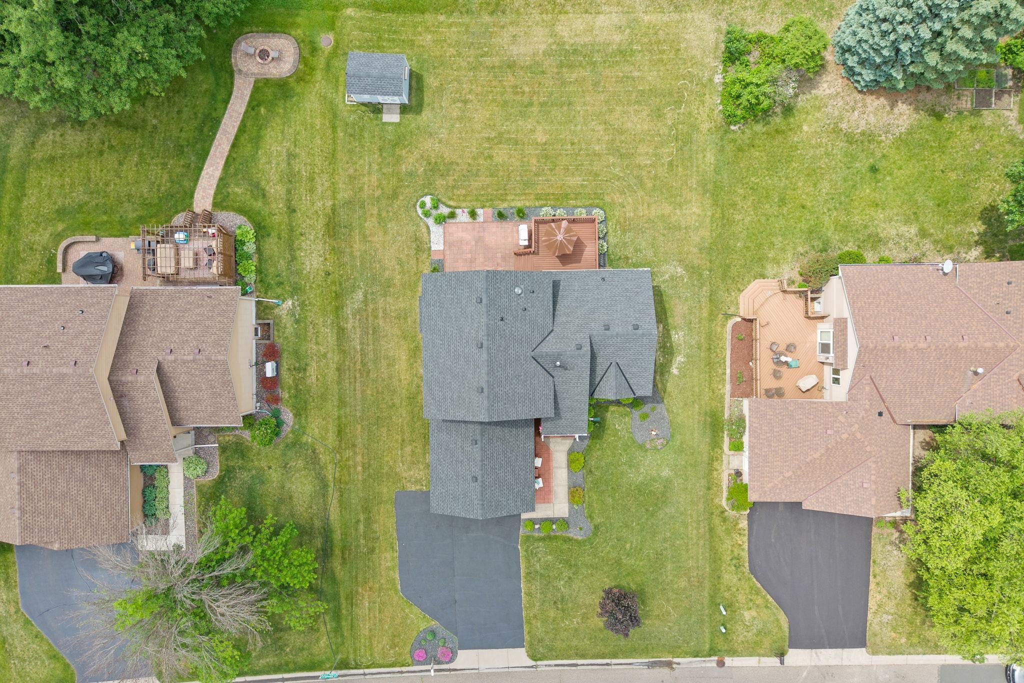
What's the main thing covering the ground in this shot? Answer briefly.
grass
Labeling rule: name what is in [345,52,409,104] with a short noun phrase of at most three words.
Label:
shed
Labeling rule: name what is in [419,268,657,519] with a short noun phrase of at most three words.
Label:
house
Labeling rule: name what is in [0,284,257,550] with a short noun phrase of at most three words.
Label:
house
